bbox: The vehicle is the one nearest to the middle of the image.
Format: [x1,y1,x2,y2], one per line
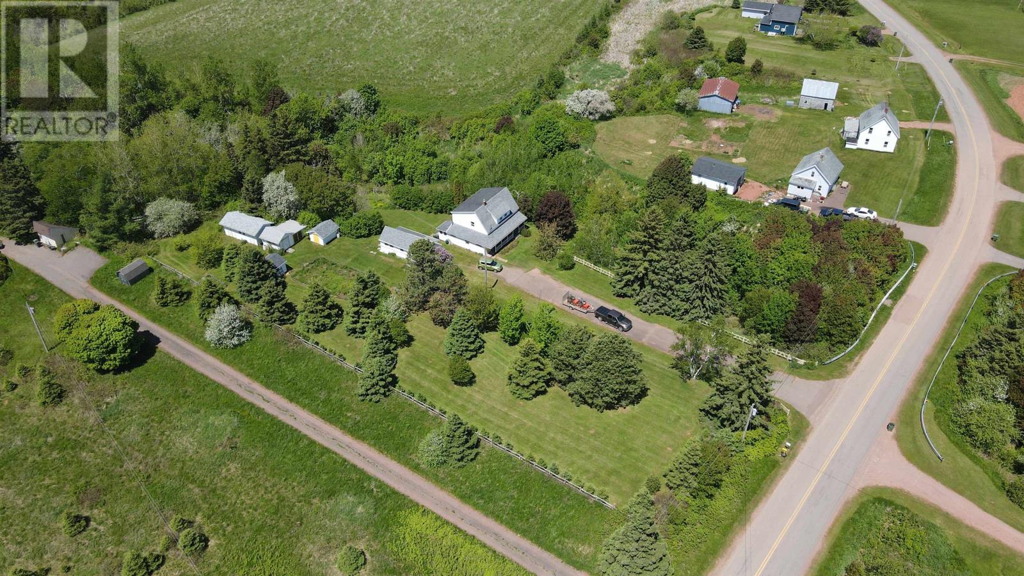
[476,256,503,272]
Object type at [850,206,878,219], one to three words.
vehicle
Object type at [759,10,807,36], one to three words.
house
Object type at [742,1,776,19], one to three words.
building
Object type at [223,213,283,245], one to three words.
shed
